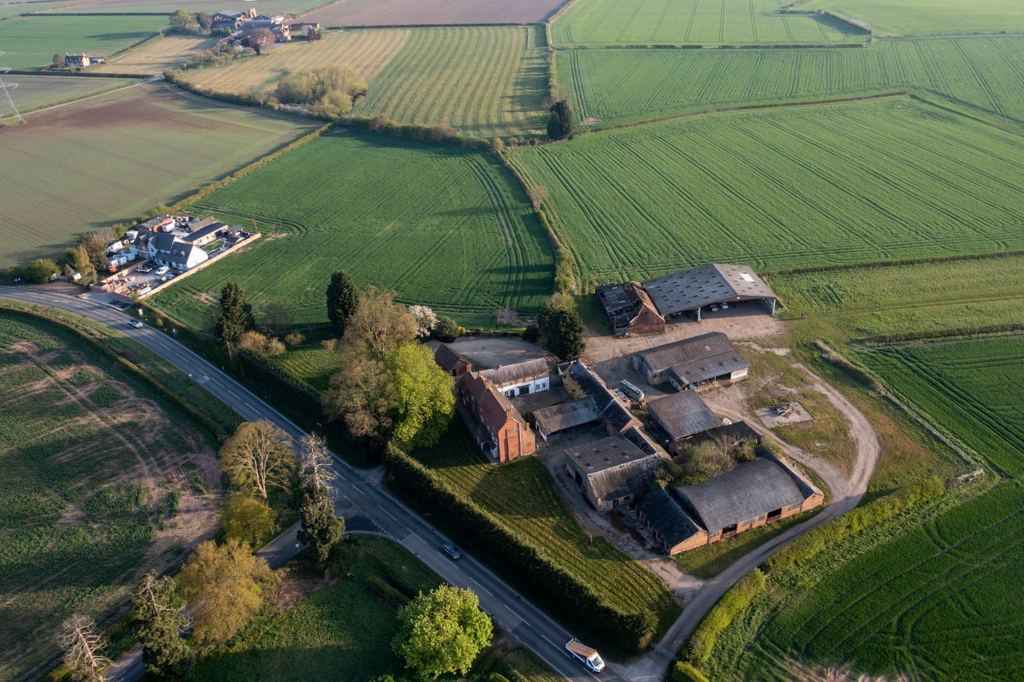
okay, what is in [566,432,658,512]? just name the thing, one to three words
building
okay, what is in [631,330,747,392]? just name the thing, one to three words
barn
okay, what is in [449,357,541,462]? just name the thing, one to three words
house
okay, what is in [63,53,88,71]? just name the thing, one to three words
house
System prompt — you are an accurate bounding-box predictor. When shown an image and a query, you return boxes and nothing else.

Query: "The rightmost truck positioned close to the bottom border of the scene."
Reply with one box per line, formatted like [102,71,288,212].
[568,646,604,673]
